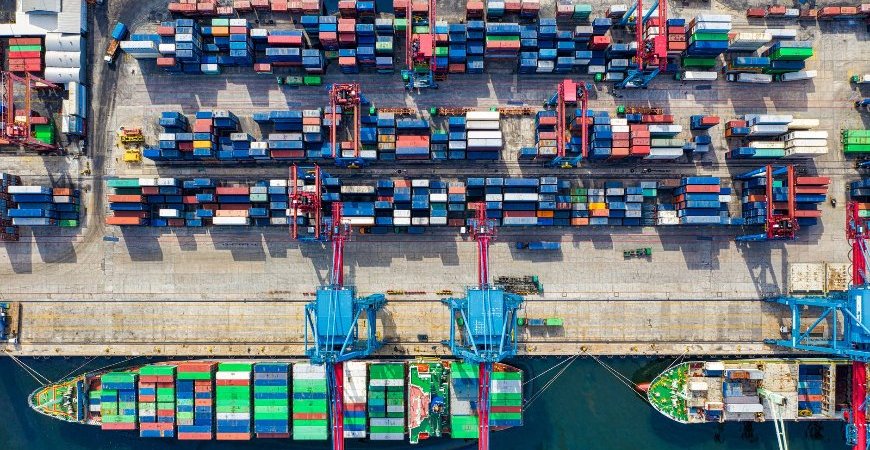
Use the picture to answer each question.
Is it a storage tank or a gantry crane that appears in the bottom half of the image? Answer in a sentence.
It is a gantry crane that can be seen in the bottom half of the image.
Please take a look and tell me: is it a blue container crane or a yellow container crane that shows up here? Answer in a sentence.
Visible in the photo is a blue container crane.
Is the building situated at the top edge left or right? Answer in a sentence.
The building situated at the top edge is on the left side of the image.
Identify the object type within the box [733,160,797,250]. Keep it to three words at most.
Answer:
crane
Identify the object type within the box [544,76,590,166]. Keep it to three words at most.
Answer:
crane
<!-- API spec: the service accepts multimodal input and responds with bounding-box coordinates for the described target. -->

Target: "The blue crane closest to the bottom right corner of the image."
[768,202,870,450]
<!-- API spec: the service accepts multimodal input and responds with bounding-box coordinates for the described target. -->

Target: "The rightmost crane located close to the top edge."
[616,0,669,87]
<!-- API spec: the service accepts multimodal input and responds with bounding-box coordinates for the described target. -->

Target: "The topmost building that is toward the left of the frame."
[0,0,87,87]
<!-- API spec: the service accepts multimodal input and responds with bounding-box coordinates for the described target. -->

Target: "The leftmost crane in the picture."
[2,66,71,152]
